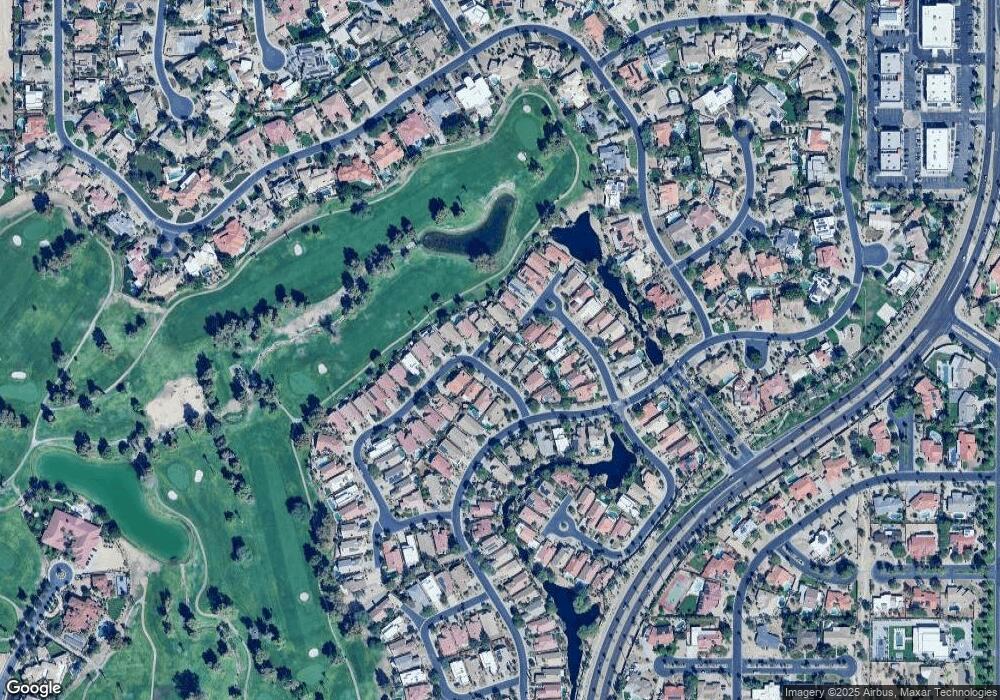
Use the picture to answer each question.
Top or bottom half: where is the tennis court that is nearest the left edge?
bottom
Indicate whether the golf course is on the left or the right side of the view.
left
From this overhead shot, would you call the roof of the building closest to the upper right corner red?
No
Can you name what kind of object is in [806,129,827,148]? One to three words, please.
house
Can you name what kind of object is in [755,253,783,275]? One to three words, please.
house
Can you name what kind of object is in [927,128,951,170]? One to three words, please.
building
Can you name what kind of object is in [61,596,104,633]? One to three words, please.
building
